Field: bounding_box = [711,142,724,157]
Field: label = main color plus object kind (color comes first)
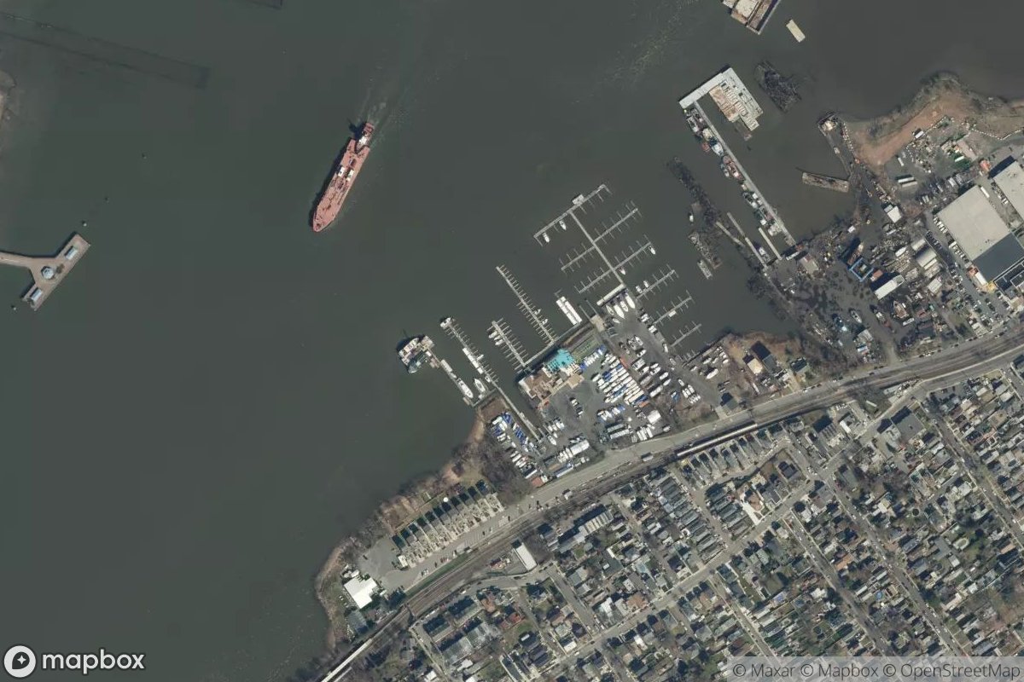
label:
white boat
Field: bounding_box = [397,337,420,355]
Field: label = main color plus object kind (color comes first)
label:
white boat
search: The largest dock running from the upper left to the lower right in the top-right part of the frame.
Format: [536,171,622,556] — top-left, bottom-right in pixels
[693,102,797,246]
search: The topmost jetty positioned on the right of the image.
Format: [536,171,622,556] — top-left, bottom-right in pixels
[679,69,730,106]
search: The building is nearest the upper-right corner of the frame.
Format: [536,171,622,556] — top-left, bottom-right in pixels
[994,156,1024,221]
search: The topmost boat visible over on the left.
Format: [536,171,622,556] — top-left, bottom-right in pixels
[357,120,376,151]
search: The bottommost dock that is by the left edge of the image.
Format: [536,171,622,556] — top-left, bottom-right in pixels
[0,233,91,311]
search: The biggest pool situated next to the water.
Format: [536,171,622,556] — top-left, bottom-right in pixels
[546,348,575,371]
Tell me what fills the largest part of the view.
water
